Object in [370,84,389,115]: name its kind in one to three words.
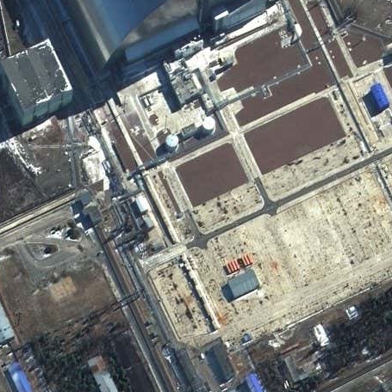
building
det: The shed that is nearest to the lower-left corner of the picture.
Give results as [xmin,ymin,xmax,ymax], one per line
[8,363,32,392]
